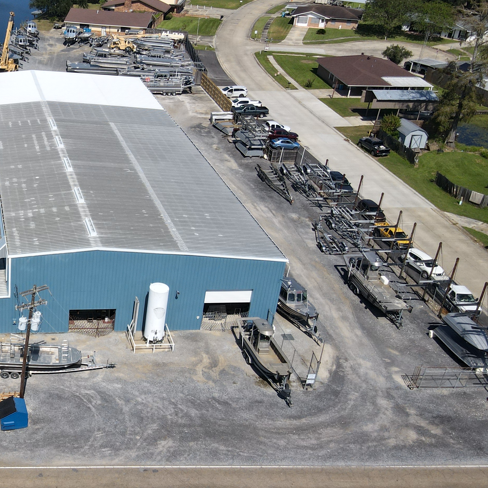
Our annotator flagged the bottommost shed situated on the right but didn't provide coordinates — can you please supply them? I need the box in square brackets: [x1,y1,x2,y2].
[406,110,435,149]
